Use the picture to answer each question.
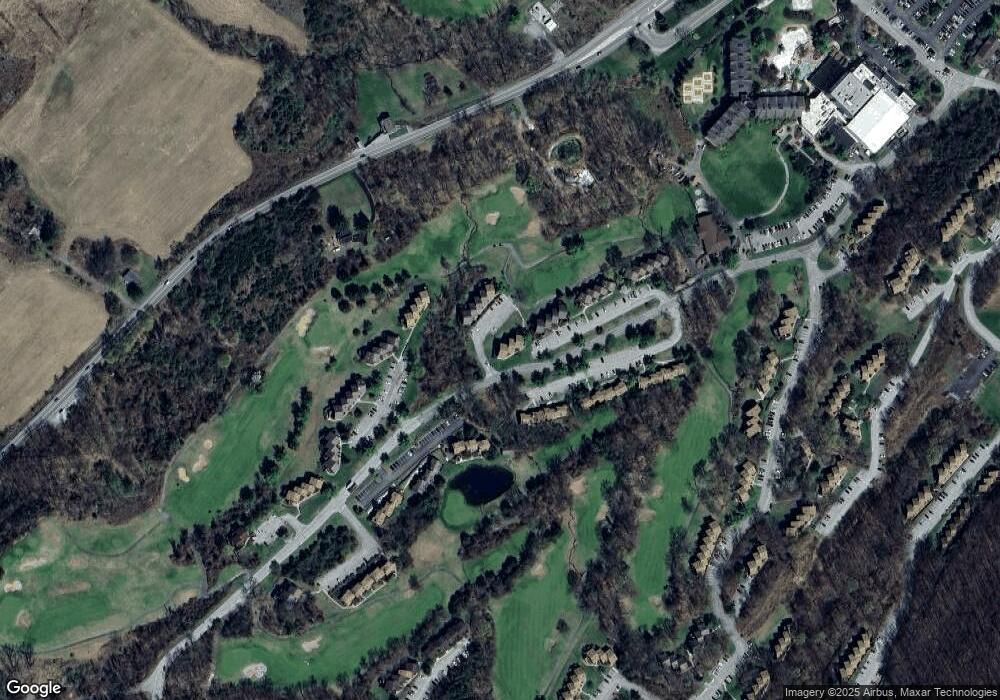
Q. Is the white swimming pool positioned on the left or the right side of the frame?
right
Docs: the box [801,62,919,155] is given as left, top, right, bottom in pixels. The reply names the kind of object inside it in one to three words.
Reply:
building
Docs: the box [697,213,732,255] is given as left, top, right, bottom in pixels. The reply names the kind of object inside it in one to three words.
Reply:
building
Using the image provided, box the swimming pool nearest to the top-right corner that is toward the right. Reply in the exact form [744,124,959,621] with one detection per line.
[763,20,818,94]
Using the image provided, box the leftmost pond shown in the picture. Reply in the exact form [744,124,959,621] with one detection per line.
[449,464,514,503]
